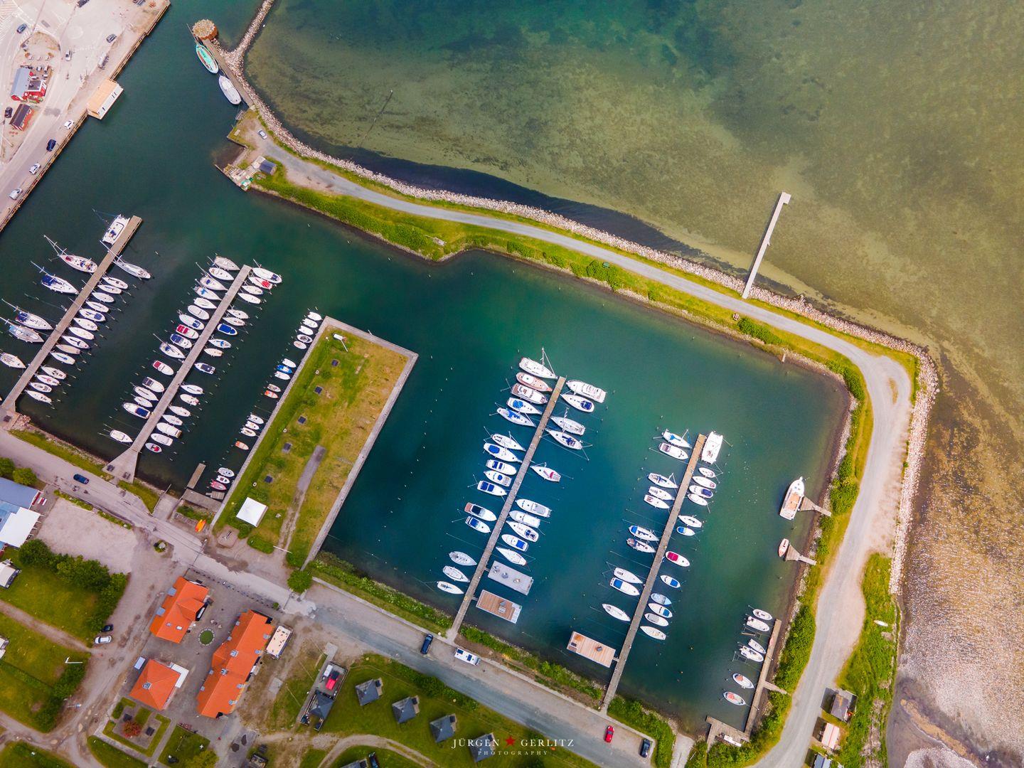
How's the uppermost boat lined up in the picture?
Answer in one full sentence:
In this picture, the uppermost boat is oriented on a diagonal.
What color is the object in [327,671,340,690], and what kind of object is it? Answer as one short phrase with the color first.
red vehicle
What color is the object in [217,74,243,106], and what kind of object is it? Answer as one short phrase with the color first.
white boat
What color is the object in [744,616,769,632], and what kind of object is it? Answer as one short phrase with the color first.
white boat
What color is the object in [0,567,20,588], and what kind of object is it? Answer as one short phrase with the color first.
white camper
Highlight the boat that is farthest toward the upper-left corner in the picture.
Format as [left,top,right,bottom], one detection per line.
[190,33,219,76]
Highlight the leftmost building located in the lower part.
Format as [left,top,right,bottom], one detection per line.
[0,478,46,547]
